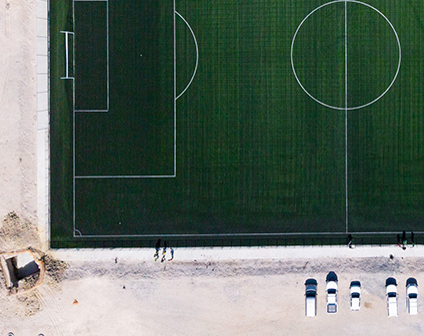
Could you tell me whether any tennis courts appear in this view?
No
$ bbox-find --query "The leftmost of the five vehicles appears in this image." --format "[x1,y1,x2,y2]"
[304,285,318,316]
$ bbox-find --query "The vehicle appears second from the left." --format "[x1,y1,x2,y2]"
[325,277,338,313]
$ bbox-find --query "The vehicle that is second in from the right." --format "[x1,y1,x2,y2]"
[384,283,397,317]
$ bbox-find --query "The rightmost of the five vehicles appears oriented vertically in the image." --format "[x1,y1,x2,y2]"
[404,284,419,315]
